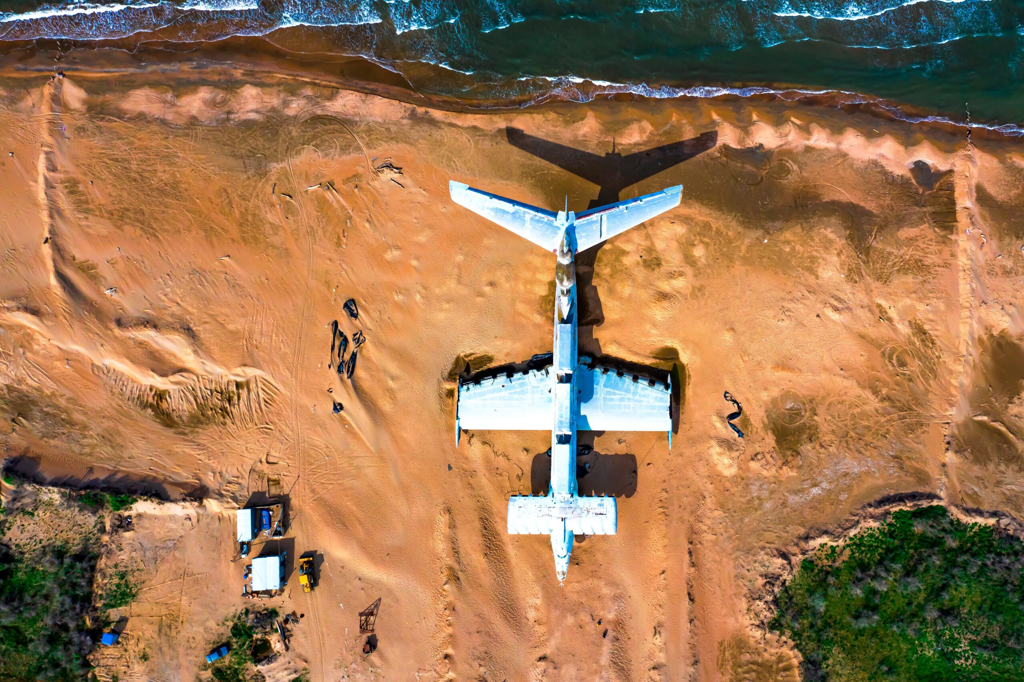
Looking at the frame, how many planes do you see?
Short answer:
1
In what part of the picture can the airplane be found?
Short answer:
center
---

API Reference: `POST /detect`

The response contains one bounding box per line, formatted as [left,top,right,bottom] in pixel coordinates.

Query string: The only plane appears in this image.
[454,181,684,592]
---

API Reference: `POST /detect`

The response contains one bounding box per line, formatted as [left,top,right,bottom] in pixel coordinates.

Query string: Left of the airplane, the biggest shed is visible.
[252,553,284,590]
